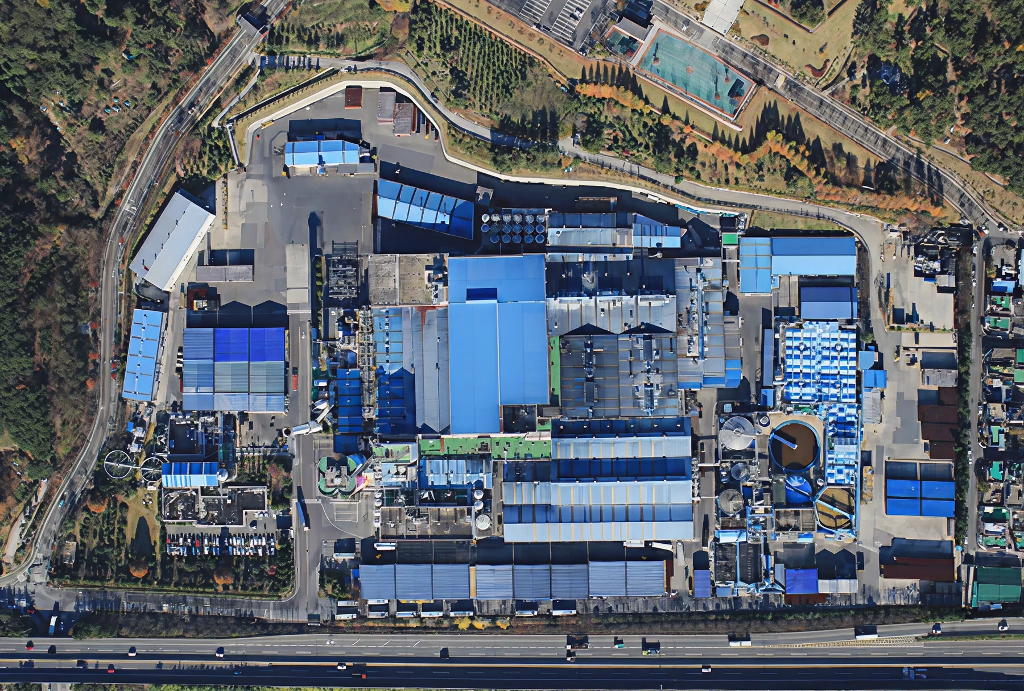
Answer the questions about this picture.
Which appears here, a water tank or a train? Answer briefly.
water tank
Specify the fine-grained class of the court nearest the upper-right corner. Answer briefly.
tennis court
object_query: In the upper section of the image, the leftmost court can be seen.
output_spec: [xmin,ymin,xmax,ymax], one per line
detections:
[606,27,642,60]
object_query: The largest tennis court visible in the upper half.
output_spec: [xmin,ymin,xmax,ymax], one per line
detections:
[637,29,756,118]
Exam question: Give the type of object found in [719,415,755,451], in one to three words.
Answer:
water tank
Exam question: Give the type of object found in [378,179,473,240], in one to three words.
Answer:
building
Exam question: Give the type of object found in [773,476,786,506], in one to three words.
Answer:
house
